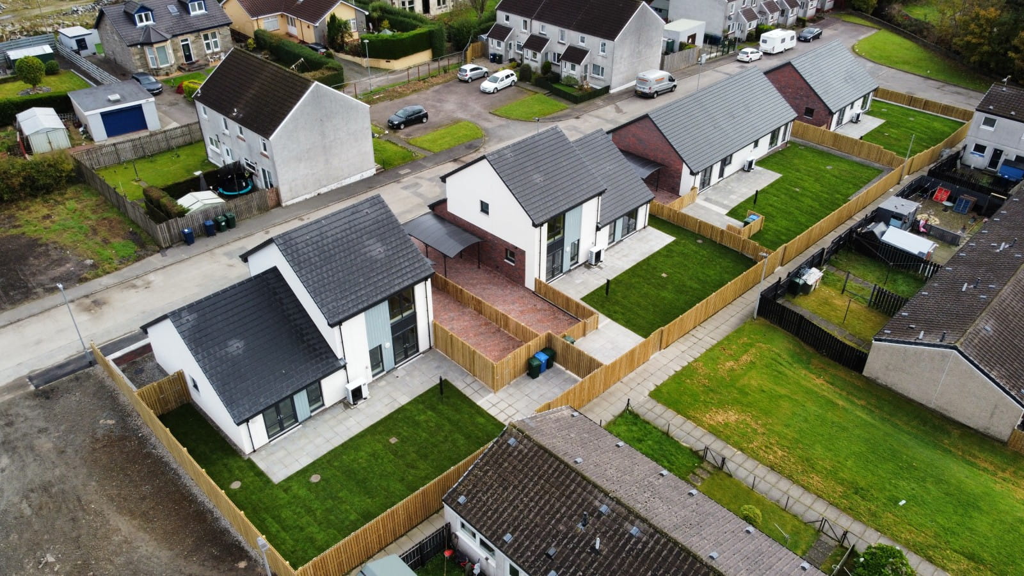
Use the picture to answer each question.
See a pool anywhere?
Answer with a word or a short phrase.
No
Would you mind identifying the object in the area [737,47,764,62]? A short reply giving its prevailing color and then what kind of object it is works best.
white car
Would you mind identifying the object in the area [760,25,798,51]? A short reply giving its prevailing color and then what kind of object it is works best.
white camper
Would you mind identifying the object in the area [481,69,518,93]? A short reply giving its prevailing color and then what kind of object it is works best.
white car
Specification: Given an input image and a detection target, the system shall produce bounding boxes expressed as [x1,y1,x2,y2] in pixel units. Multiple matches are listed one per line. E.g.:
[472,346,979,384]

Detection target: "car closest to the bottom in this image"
[390,104,429,129]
